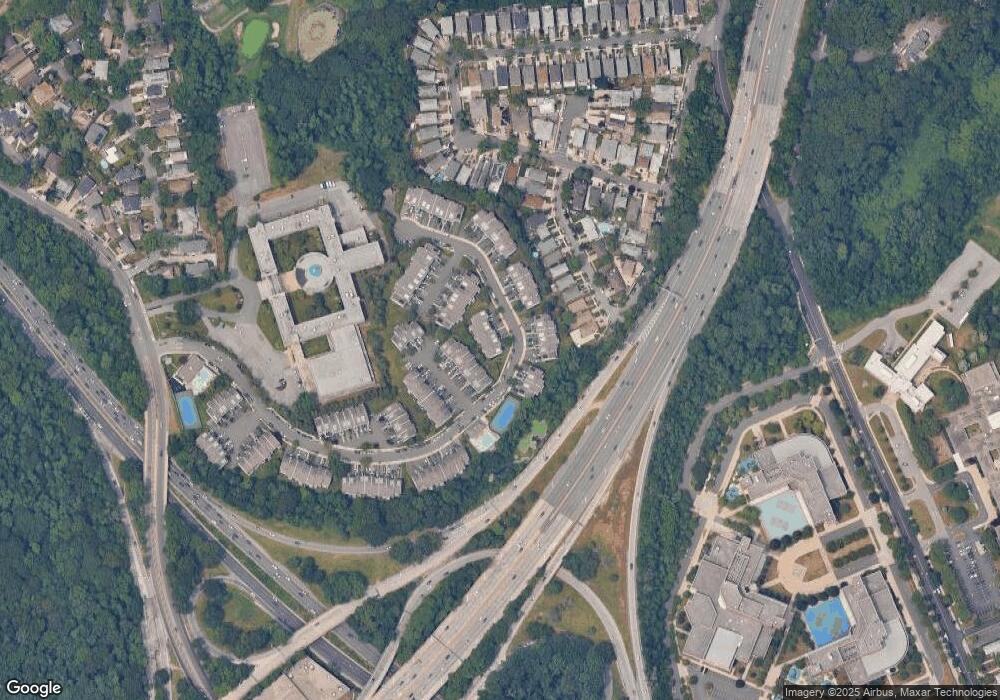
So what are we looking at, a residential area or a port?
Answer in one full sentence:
It's a residential area.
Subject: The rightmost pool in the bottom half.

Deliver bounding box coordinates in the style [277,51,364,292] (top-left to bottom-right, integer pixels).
[471,430,500,452]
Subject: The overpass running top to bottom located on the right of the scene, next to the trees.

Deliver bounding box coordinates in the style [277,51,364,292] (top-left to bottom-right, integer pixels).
[699,92,785,229]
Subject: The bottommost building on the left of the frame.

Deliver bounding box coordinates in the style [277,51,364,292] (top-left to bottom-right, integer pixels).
[250,656,351,700]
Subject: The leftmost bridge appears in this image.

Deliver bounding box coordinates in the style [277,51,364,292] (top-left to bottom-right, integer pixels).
[146,420,168,511]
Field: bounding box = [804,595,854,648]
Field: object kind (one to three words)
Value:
sports court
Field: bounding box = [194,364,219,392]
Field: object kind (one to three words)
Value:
swimming pool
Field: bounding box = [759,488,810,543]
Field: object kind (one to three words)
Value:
sports court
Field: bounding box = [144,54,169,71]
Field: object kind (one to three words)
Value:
house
